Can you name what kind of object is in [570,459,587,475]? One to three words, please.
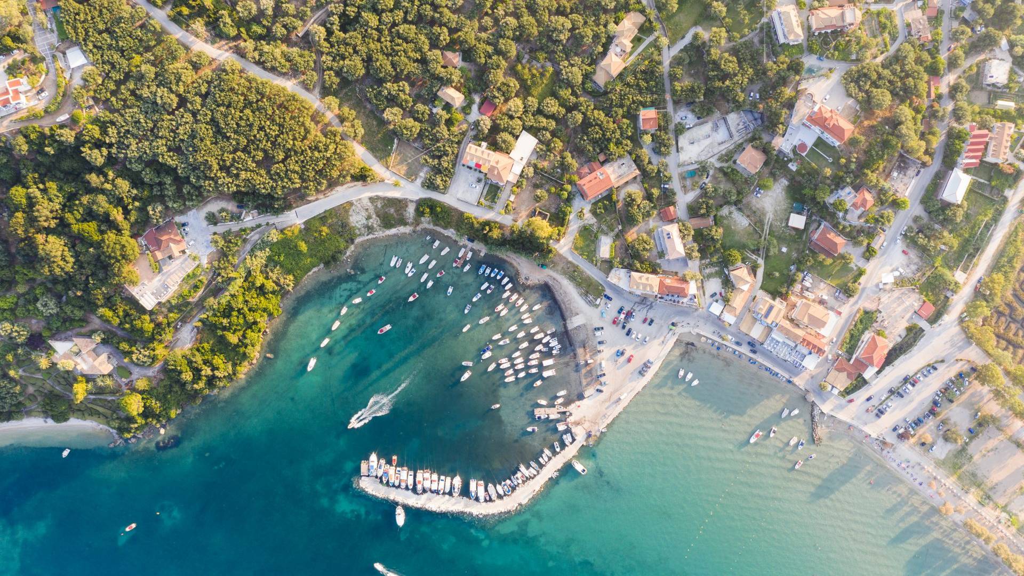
boat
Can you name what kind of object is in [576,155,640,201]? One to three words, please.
house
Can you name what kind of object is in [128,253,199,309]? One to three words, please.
building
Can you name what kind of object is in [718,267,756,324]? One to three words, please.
house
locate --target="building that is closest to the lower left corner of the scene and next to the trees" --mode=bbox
[49,338,118,375]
